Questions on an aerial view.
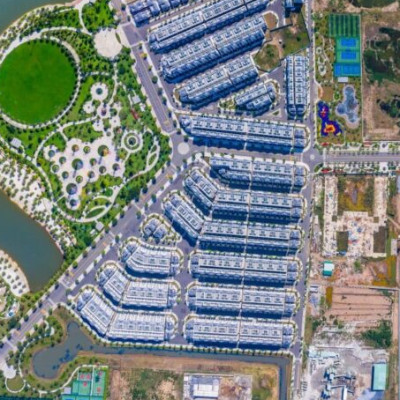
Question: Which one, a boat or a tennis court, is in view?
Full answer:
This aerial view contains a tennis court.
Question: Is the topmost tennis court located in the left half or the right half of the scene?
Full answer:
The topmost tennis court appears in the right half of the scene.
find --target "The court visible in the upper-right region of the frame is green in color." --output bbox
[336,37,361,63]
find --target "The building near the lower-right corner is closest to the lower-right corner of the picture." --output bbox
[373,364,387,392]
